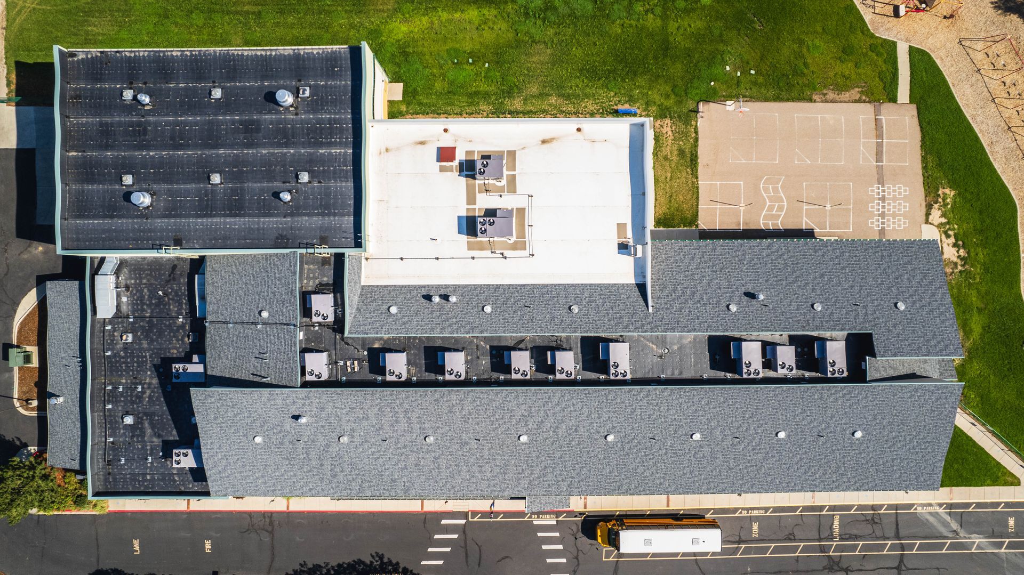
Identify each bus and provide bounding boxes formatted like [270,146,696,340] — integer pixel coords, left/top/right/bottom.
[593,518,722,553]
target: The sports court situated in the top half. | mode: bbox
[698,102,925,239]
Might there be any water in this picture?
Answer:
No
